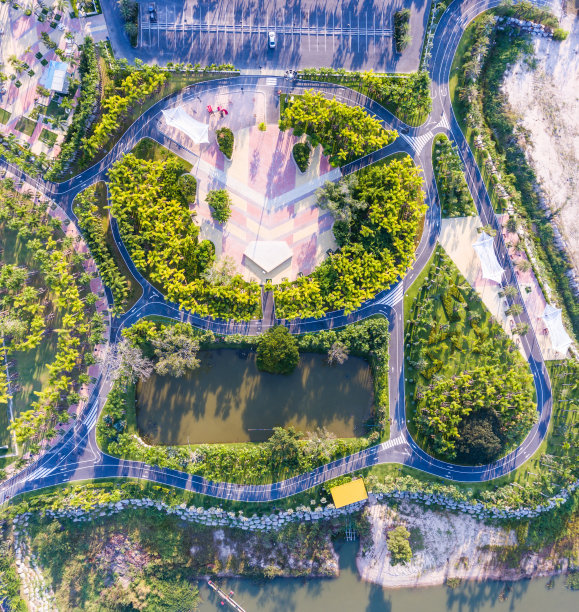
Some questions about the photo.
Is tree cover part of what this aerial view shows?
Yes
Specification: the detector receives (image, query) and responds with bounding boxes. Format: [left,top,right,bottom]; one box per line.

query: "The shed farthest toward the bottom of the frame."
[330,476,368,508]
